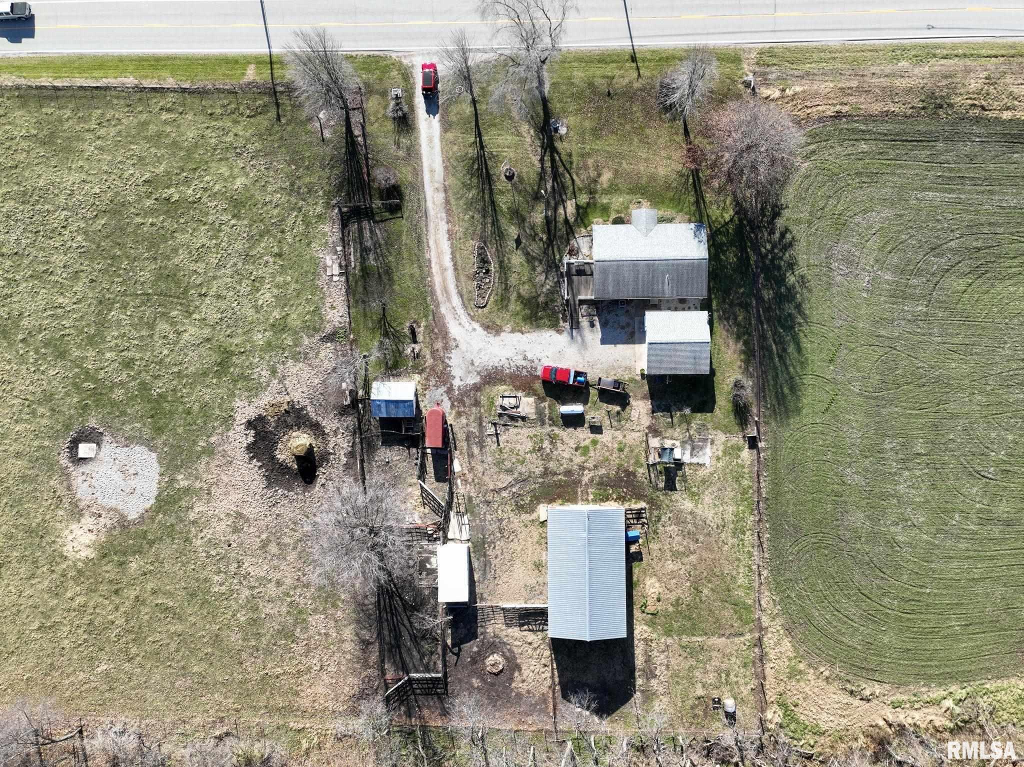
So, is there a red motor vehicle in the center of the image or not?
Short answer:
Yes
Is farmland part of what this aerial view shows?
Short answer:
Yes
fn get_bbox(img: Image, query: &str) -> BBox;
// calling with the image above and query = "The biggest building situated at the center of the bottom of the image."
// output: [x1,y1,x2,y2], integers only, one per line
[546,506,627,642]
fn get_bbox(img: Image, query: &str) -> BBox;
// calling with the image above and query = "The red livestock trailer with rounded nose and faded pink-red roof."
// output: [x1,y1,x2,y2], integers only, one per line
[426,400,447,447]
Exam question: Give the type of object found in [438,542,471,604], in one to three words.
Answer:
shed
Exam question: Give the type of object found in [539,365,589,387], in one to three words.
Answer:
truck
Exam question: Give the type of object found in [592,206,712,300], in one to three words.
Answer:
house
